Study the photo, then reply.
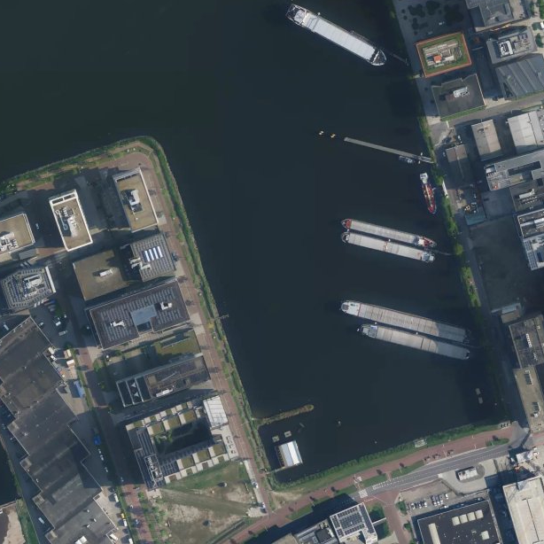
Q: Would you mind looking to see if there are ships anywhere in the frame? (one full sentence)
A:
Yes, a ship appears in the view.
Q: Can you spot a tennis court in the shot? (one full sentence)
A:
No, no tennis court is visible in the view.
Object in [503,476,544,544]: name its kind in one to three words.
building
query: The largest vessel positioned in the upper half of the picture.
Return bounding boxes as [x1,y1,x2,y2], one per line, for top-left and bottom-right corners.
[288,4,387,63]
